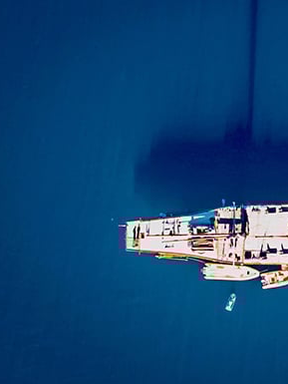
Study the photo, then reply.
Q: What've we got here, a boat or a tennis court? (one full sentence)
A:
The one in the frame is a boat.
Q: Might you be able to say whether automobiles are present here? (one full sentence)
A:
No, the picture doesn't show any automobile.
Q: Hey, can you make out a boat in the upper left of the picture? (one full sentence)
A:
No, no boat appears in the upper left of the picture.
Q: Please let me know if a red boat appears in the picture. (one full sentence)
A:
No, there appears to be no red boat in this shot.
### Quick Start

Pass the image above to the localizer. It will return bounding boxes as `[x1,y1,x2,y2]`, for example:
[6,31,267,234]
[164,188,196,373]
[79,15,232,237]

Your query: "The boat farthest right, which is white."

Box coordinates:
[260,271,288,290]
